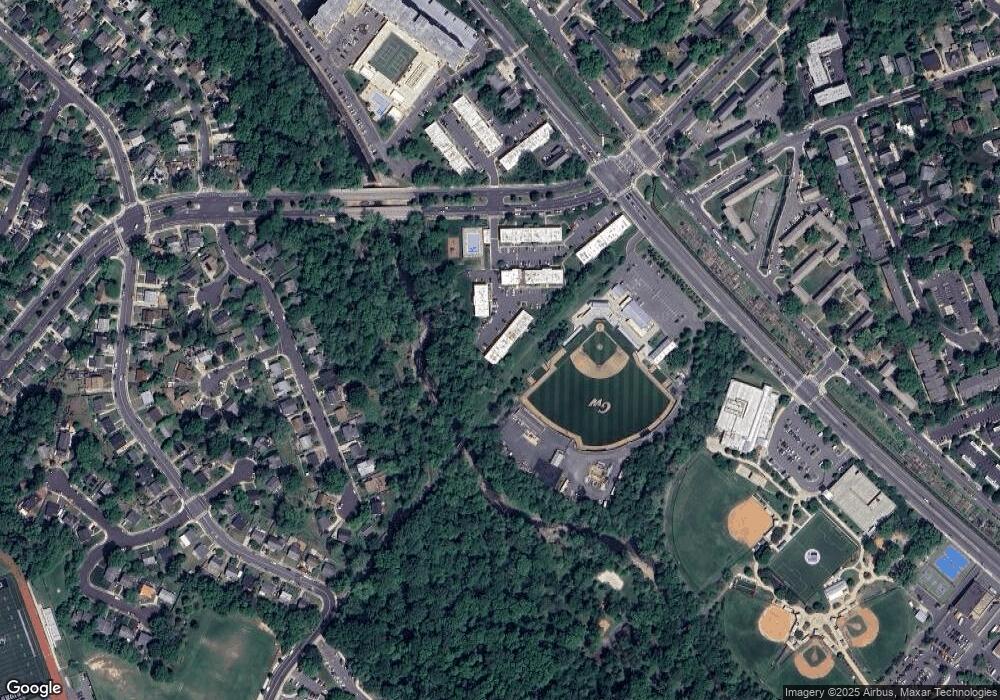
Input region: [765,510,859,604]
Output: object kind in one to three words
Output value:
soccer field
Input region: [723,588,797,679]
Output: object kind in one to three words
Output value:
baseball field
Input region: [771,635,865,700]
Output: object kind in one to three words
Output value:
baseball field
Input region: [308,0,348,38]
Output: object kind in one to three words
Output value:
building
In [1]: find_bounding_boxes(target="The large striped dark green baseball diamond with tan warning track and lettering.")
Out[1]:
[522,319,740,452]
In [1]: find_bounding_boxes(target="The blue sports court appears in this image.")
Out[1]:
[930,546,971,586]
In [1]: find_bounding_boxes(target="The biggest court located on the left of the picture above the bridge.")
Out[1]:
[369,33,417,79]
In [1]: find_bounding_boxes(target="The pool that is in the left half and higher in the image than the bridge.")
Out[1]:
[360,88,394,120]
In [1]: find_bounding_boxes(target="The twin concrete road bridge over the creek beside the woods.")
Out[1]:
[334,188,422,220]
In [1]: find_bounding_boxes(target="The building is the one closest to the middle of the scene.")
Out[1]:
[486,310,533,364]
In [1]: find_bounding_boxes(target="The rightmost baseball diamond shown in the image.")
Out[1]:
[832,589,920,679]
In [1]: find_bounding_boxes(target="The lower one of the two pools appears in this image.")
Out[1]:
[463,227,483,257]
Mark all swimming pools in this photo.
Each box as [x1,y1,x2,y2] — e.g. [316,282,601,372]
[463,227,483,257]
[360,88,394,120]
